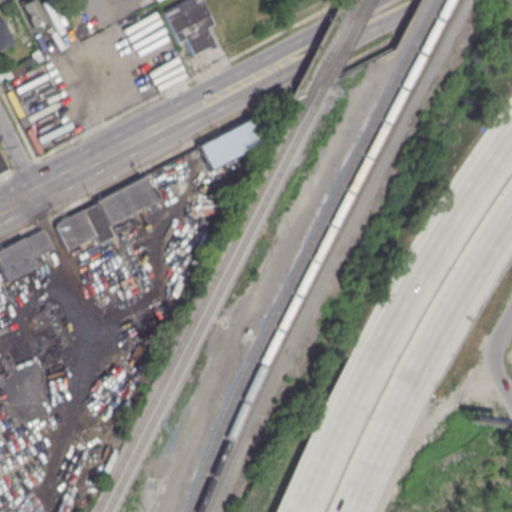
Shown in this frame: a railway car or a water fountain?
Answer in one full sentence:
This aerial view contains a railway car.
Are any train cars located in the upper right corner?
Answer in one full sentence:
Yes, looking in the upper right corner, one can make out a train car.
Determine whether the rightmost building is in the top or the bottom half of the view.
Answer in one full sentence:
The rightmost building is in the top half of the image.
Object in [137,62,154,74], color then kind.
red vehicle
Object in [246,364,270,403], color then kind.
white rail car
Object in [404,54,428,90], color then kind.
white rail car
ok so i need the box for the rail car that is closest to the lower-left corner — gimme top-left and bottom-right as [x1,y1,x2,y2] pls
[190,474,214,512]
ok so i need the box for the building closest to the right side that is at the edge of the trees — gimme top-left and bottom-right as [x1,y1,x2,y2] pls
[202,120,256,170]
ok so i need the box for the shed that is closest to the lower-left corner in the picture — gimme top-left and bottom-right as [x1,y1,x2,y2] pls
[0,230,56,282]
